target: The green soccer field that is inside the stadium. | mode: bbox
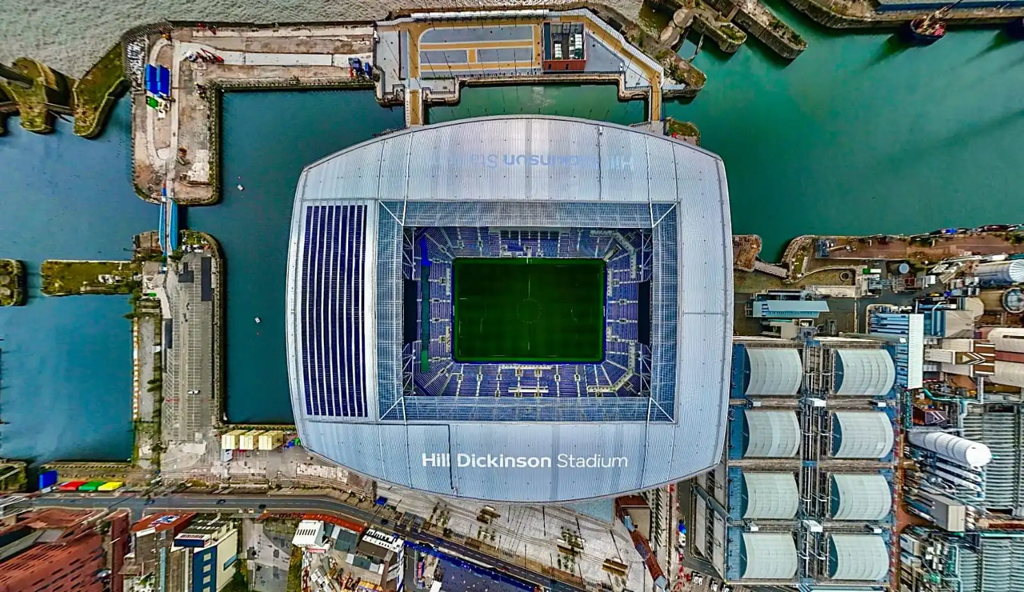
[451,259,606,365]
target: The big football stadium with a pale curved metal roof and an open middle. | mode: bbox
[286,115,733,504]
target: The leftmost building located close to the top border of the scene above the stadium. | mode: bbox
[542,19,587,70]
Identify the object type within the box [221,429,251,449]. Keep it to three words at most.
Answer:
building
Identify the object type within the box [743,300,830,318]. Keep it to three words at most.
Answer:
shed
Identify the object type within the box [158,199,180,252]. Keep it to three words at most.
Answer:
bridge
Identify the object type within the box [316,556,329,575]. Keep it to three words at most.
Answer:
vehicle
